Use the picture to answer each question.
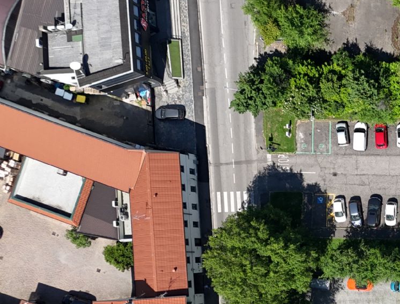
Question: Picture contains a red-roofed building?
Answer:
Yes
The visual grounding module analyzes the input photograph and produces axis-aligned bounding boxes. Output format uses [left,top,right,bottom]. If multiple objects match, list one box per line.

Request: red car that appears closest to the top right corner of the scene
[374,124,389,149]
